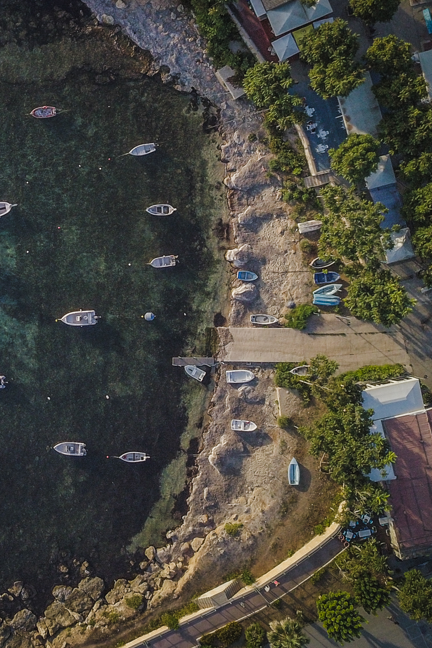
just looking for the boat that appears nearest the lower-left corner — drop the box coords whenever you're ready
[54,441,90,456]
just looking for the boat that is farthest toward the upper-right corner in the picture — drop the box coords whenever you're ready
[296,220,321,234]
